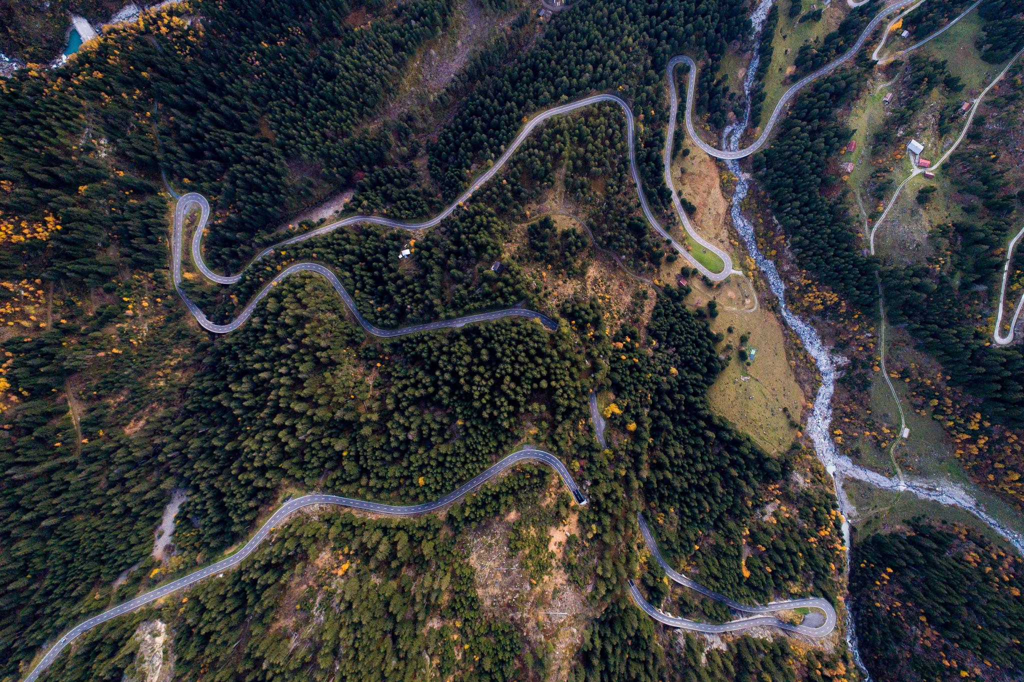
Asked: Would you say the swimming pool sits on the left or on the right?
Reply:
left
